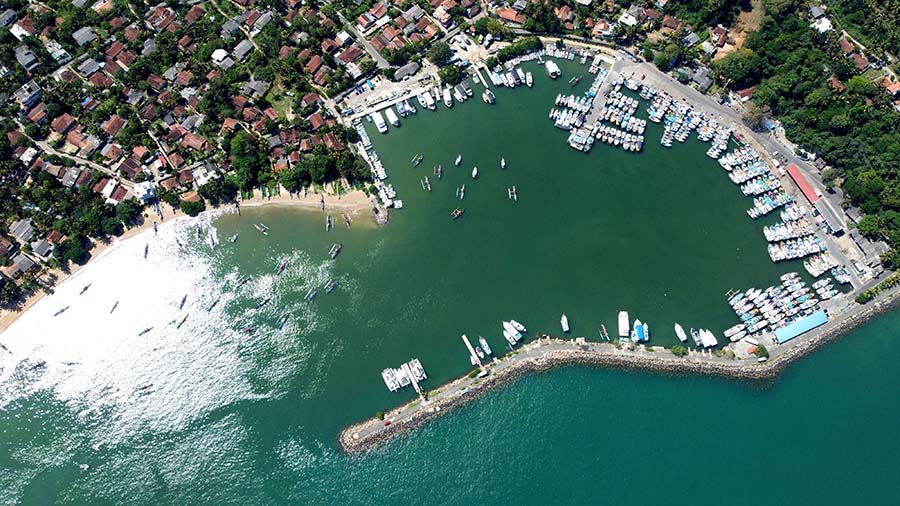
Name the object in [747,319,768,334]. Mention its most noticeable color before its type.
white boat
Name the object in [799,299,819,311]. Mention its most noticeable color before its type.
white boat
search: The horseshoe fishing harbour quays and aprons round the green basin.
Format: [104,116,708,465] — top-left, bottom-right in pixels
[597,64,870,366]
